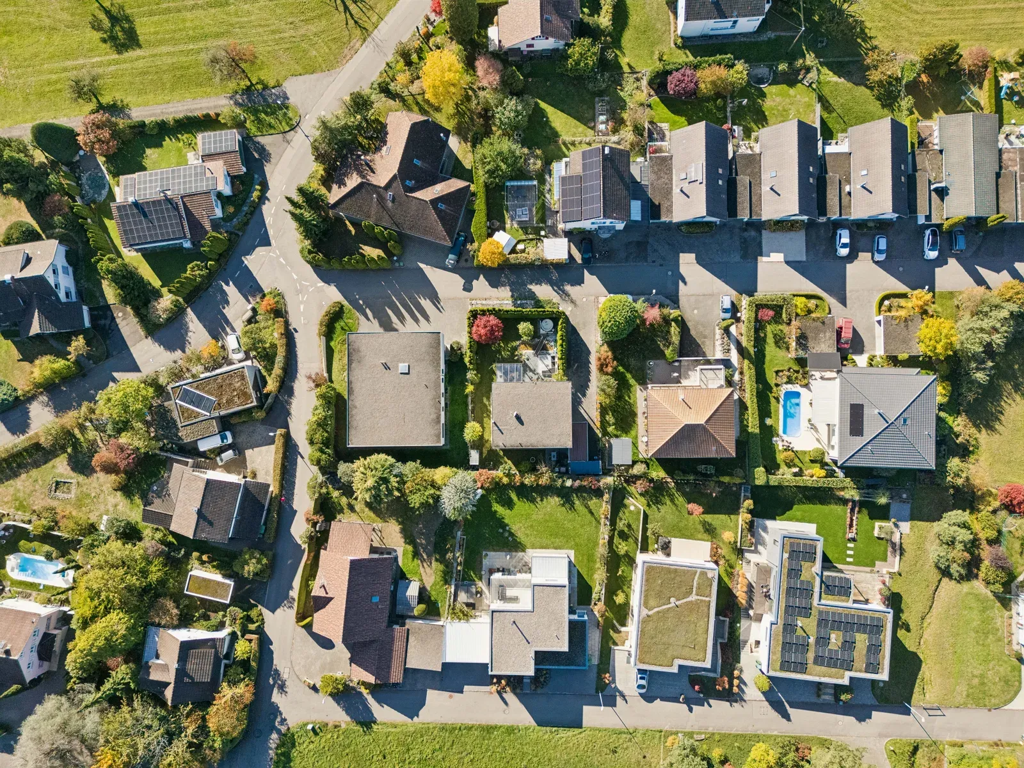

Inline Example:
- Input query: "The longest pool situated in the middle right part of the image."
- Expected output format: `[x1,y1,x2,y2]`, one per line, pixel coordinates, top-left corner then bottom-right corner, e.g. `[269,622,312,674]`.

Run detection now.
[782,390,801,437]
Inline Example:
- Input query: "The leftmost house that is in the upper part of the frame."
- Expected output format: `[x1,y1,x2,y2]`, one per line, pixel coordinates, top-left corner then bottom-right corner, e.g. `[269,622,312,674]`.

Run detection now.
[0,240,90,338]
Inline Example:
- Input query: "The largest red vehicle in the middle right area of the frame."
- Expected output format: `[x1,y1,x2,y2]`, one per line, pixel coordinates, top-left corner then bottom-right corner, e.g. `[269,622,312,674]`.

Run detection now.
[835,316,855,349]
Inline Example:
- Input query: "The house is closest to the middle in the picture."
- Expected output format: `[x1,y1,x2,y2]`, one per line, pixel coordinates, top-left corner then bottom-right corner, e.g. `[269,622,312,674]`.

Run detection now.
[492,382,572,448]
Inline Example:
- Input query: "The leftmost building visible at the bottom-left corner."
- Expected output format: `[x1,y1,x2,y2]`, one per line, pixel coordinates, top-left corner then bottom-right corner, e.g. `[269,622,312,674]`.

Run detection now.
[0,594,75,685]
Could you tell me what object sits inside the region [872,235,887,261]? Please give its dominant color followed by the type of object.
blue car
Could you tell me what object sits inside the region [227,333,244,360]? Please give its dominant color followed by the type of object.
white car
